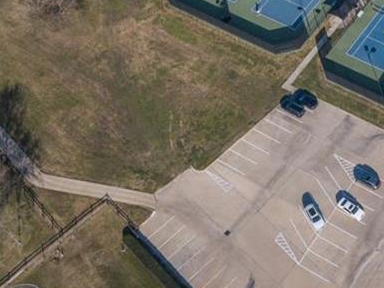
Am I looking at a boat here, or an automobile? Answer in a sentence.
Of the two, only an automobile appears.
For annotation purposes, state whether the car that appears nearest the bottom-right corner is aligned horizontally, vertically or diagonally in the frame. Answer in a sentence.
The car that appears nearest the bottom-right corner is laid out diagonally.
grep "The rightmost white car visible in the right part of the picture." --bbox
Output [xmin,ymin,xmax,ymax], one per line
[336,196,363,218]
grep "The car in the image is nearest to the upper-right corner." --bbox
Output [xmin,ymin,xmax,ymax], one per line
[293,87,318,107]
